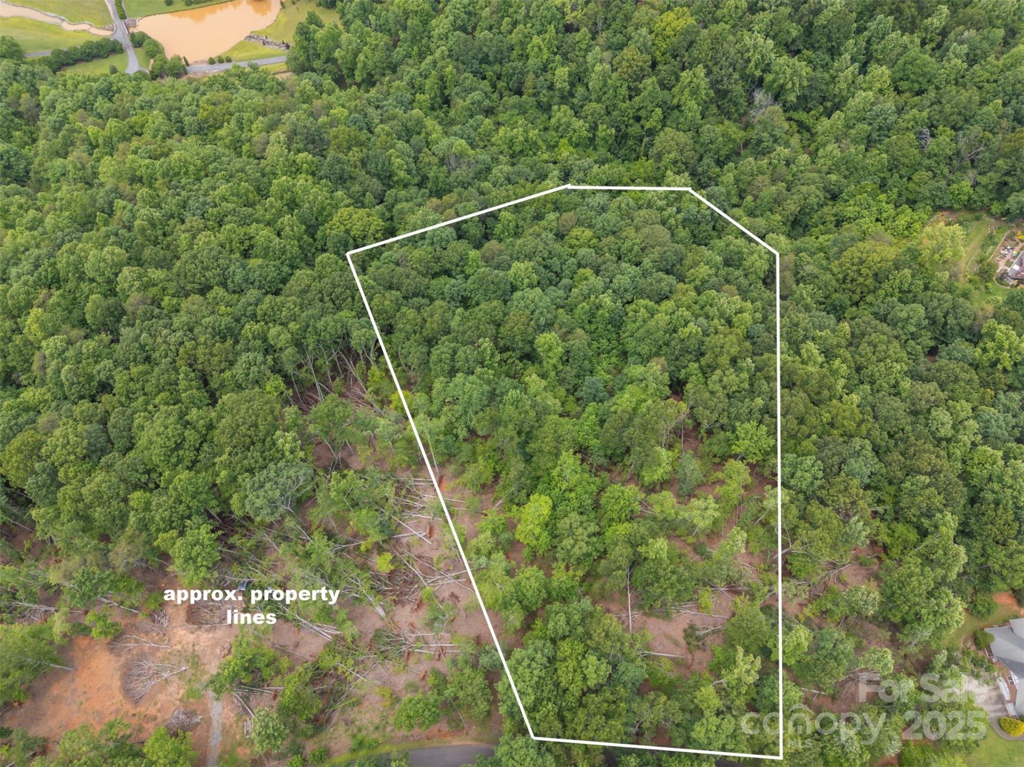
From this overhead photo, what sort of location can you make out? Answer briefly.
forest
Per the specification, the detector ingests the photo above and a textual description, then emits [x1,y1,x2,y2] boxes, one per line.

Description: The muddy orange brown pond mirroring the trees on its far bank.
[138,0,283,62]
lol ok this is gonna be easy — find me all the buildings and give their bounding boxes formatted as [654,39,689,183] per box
[984,619,1024,720]
[1002,252,1024,293]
